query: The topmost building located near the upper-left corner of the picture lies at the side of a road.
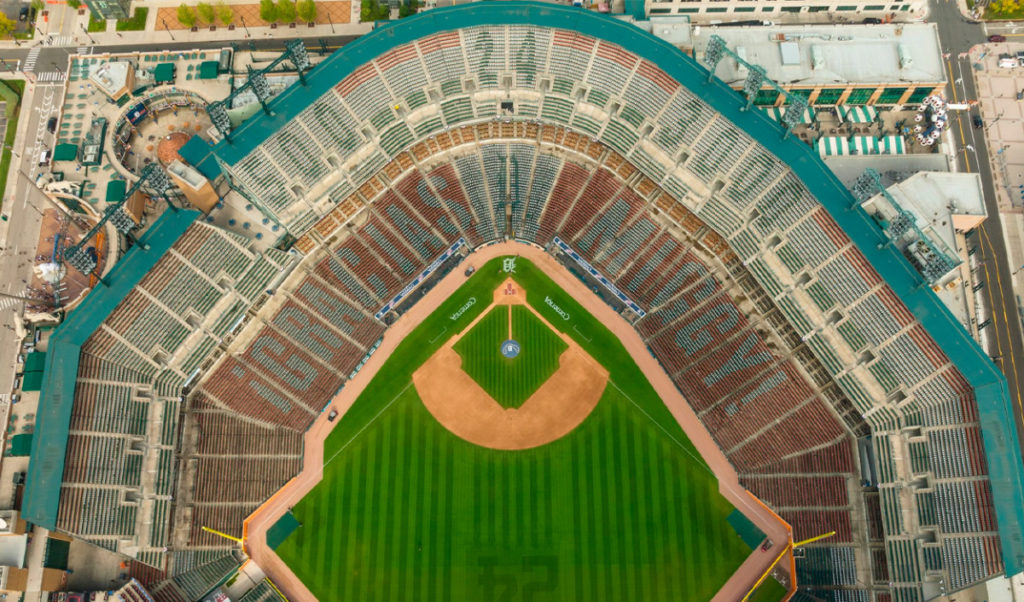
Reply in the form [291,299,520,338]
[87,0,139,30]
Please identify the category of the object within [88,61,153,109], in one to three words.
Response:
building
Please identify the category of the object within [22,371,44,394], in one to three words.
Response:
tent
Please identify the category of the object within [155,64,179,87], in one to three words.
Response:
tent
